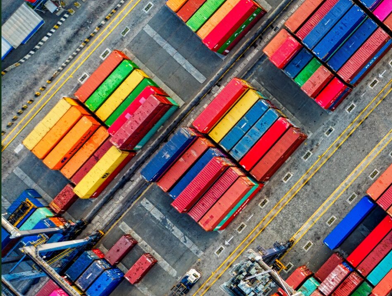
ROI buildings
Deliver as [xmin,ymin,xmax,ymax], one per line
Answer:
[0,2,50,49]
[44,0,66,16]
